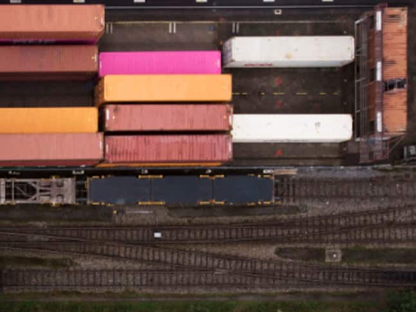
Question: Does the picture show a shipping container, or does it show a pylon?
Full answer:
Looking from above, you can make out a shipping container.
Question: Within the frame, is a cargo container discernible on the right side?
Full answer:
Yes, a cargo container appears on the right side.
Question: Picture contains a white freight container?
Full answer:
Yes, there's a white freight container here.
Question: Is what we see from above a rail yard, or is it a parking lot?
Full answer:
This image shows a rail yard.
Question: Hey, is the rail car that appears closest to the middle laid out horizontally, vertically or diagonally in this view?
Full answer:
The rail car that appears closest to the middle is laid out horizontally.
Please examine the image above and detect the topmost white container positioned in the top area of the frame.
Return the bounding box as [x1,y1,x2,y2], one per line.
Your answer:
[221,36,353,68]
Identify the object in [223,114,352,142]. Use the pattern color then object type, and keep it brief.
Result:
white shipping container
